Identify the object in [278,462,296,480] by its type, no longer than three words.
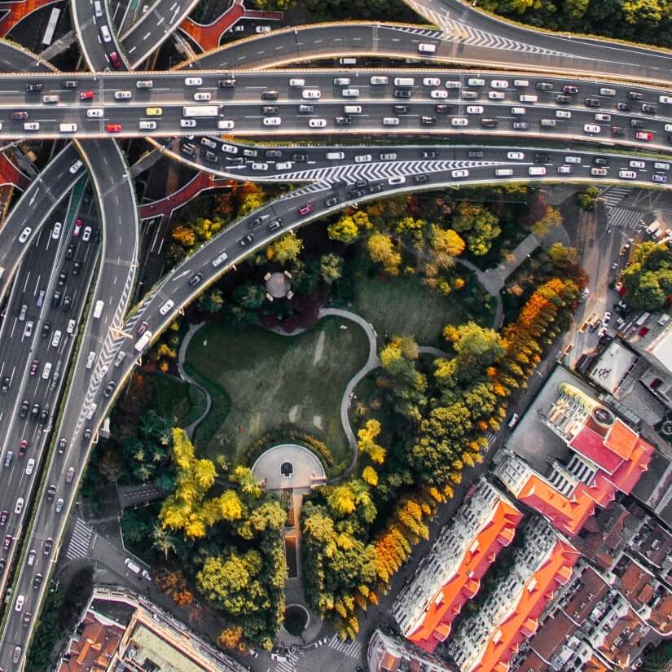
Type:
fountain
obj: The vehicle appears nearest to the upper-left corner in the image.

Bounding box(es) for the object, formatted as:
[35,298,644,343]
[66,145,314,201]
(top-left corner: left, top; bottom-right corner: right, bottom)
[44,10,61,42]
